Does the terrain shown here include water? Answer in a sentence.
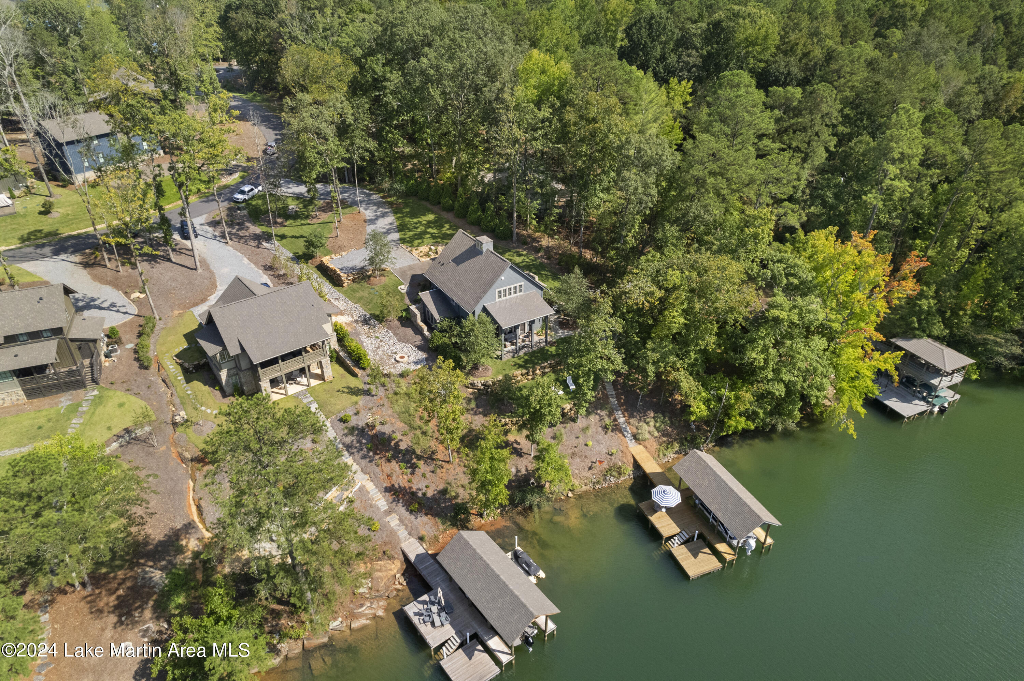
Yes, there's water in this view.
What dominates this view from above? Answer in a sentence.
The largest share of the image is taken up by trees.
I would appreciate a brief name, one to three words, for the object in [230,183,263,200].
vehicle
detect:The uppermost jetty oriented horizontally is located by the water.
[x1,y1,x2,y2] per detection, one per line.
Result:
[868,372,962,423]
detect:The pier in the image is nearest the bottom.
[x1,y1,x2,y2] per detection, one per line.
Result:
[439,639,500,681]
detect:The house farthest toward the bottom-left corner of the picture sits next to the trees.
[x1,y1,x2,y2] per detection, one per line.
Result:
[0,282,111,406]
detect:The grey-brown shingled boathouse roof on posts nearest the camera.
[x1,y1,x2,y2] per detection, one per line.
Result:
[436,531,561,660]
